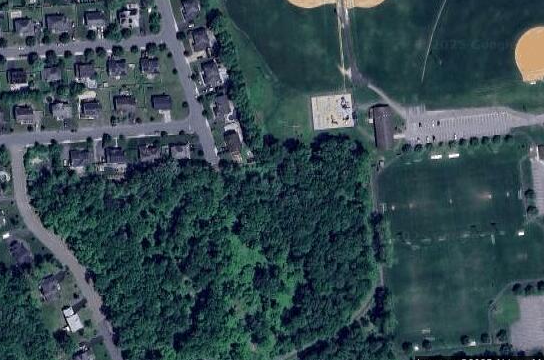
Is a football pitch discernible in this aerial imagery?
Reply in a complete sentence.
Yes, there is a football pitch in the image.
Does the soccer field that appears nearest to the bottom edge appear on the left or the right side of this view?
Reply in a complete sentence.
You can find the soccer field that appears nearest to the bottom edge on the right side of the picture.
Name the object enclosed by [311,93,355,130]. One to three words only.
playground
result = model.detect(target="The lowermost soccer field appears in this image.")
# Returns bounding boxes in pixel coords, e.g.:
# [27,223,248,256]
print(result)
[390,221,544,342]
